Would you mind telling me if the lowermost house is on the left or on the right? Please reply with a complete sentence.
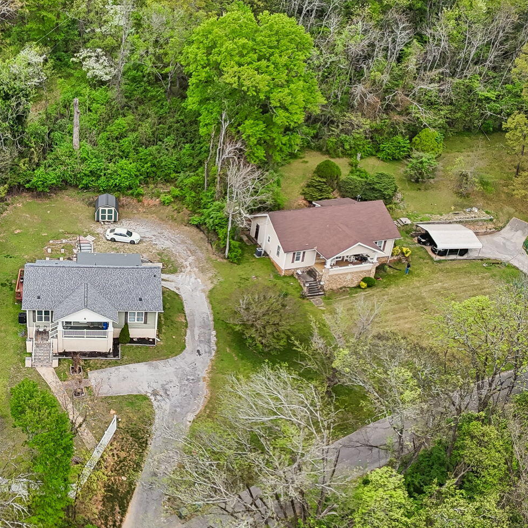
It is on the left.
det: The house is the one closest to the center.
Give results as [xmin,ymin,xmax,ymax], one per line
[244,195,403,308]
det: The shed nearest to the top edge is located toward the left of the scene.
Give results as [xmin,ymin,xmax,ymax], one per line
[94,193,119,222]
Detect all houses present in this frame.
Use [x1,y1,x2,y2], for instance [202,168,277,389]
[12,253,164,367]
[244,195,403,308]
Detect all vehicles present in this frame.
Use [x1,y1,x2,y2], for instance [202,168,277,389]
[403,232,434,247]
[421,242,465,258]
[103,226,140,244]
